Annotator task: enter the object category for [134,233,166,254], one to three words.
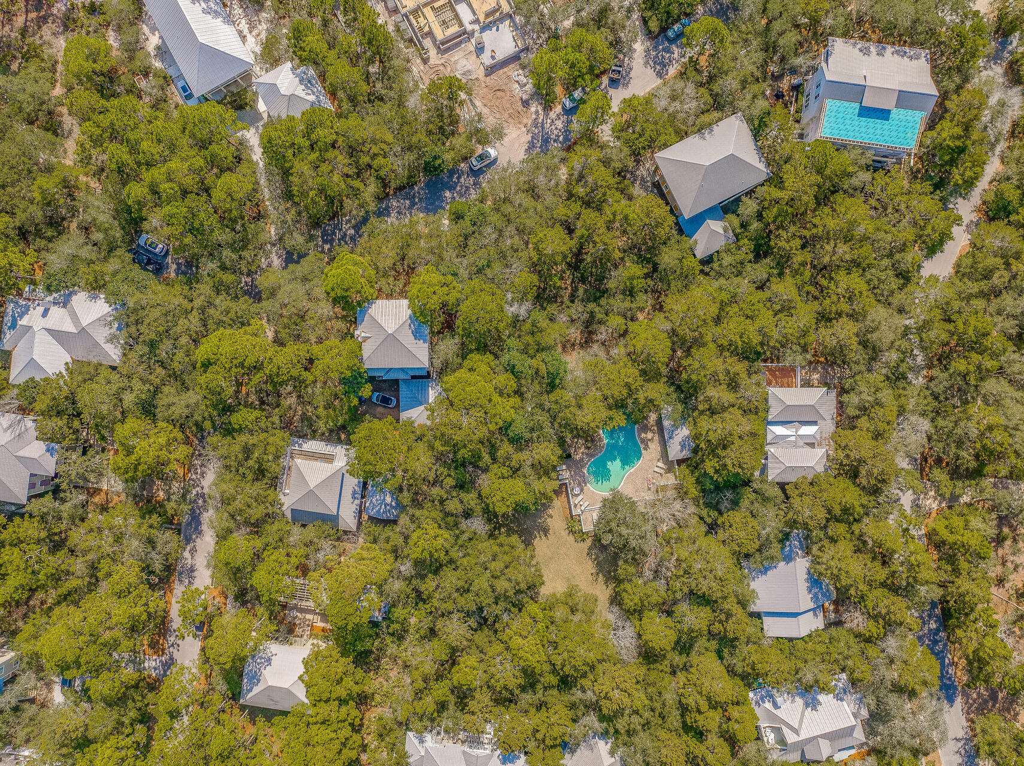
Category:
car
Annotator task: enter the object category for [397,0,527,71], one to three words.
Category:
house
